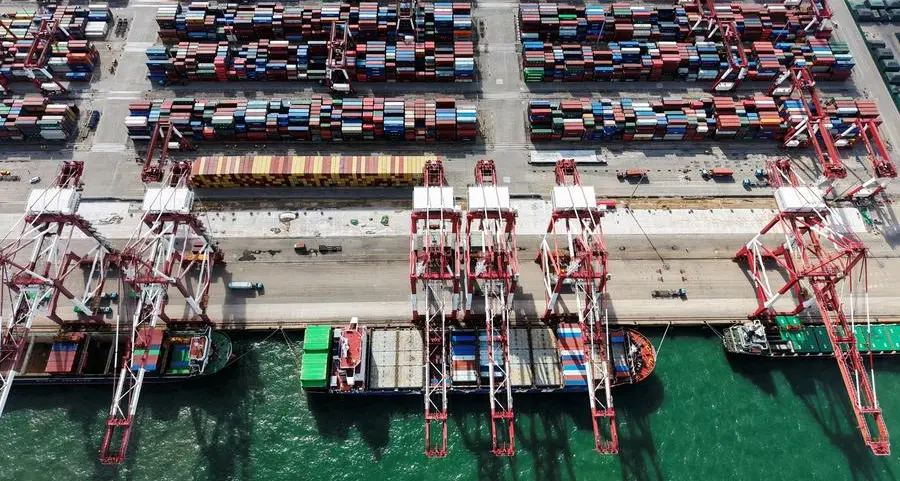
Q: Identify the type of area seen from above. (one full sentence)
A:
It's a port.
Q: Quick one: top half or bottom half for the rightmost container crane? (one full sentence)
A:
Seen from above, the rightmost container crane lies in the top half of the view.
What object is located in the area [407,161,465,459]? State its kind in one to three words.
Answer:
container crane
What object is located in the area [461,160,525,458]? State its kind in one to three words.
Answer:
container crane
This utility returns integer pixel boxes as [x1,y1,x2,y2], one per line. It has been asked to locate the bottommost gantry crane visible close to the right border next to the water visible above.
[731,159,890,452]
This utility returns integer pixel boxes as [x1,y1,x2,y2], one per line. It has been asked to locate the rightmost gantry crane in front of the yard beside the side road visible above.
[824,118,891,197]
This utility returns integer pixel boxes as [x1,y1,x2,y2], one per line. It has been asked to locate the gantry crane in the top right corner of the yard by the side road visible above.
[781,0,835,42]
